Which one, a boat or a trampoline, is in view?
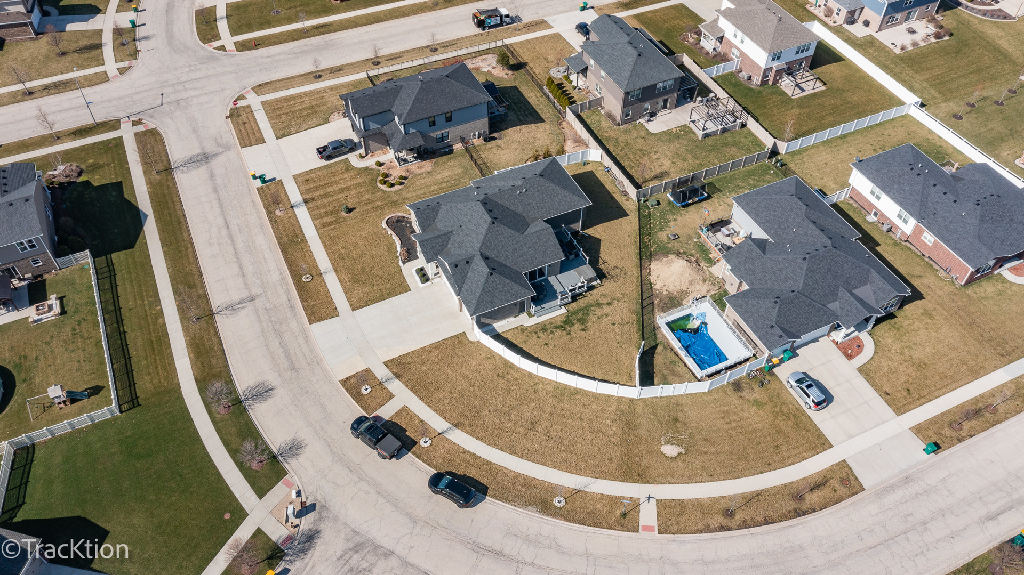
trampoline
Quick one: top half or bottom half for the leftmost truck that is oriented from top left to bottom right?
bottom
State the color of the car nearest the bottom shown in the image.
black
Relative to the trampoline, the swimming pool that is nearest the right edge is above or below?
below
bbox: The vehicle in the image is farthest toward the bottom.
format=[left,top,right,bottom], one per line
[425,471,481,511]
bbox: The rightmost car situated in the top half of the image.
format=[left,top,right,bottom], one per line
[574,23,589,41]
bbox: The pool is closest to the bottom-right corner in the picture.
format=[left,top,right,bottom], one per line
[656,301,746,378]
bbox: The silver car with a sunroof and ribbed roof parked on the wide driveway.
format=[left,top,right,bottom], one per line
[784,370,830,412]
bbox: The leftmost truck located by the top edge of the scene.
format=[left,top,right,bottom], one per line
[474,3,513,30]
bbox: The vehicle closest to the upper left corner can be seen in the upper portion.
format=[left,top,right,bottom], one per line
[315,137,358,161]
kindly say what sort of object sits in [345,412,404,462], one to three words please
truck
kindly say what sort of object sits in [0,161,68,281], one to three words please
house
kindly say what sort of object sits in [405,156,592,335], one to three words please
house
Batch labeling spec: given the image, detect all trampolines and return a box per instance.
[667,177,708,209]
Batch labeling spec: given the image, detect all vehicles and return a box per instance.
[574,23,589,41]
[315,137,358,161]
[474,3,513,30]
[784,370,830,412]
[425,471,481,511]
[345,412,404,462]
